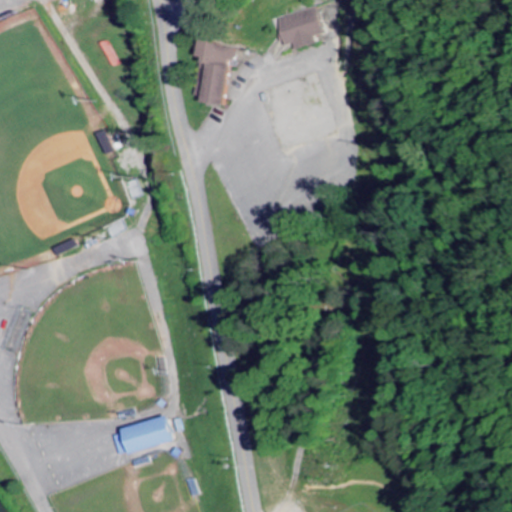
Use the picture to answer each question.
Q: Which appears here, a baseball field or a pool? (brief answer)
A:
baseball field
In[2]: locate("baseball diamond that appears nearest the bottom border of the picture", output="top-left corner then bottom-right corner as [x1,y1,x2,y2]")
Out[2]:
[48,458,200,512]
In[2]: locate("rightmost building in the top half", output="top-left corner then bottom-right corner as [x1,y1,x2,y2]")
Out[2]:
[278,8,324,48]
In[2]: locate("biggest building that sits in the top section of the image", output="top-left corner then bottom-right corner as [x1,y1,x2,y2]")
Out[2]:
[192,40,238,104]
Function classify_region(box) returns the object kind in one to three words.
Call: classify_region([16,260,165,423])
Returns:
baseball field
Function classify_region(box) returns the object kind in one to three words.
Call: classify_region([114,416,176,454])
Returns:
building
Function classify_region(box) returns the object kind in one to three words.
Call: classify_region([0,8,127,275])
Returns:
baseball field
